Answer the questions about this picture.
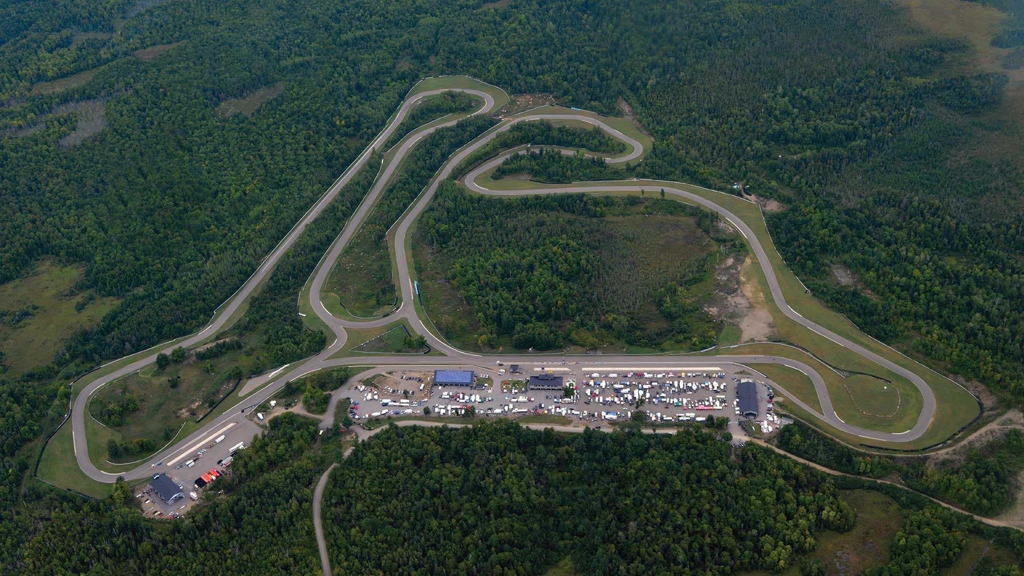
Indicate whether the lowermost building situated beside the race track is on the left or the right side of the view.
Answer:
left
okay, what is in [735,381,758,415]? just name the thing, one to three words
building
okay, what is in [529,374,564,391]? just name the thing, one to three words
building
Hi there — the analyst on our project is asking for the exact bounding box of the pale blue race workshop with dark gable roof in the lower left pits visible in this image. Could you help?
[152,473,183,504]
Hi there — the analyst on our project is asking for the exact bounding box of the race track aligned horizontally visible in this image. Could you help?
[72,89,935,485]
